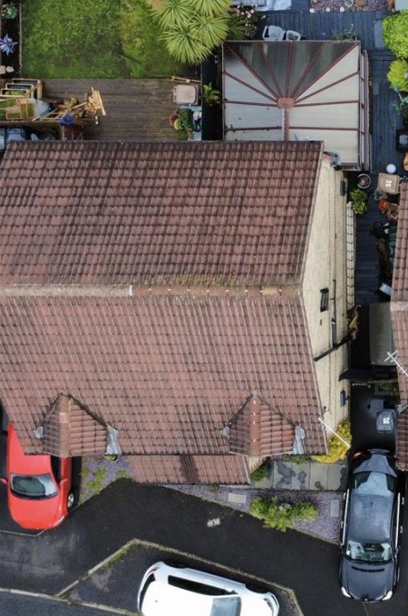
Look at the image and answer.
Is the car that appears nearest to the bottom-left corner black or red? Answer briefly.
red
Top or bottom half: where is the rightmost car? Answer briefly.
bottom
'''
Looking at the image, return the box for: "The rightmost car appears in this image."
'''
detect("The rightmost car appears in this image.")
[334,449,405,600]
